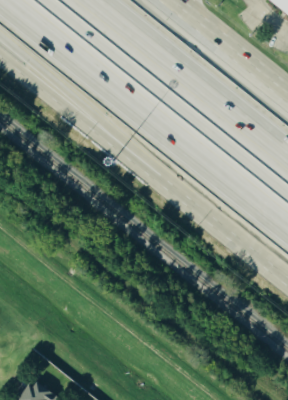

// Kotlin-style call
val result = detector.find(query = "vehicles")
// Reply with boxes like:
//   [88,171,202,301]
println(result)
[268,38,276,48]
[64,44,72,52]
[172,63,182,71]
[84,30,93,38]
[98,73,108,81]
[40,44,54,57]
[242,52,250,60]
[124,85,133,93]
[166,136,176,144]
[213,38,222,46]
[224,102,233,110]
[234,122,244,130]
[246,124,254,132]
